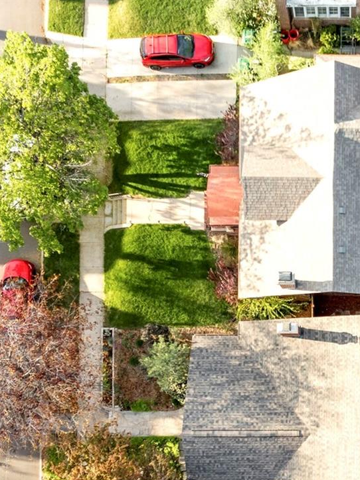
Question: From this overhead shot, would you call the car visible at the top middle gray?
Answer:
No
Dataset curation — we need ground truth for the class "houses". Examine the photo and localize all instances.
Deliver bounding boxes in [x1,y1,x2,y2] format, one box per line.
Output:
[182,313,360,480]
[260,0,360,34]
[206,57,360,301]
